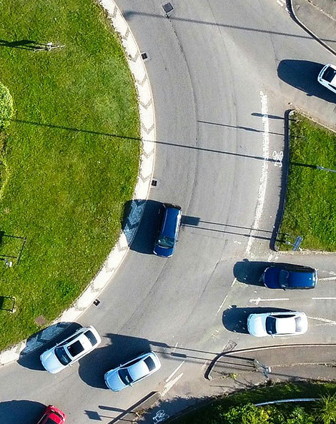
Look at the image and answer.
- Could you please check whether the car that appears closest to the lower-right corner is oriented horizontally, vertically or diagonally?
horizontally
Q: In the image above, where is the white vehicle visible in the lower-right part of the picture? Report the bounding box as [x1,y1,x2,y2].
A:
[247,310,307,337]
